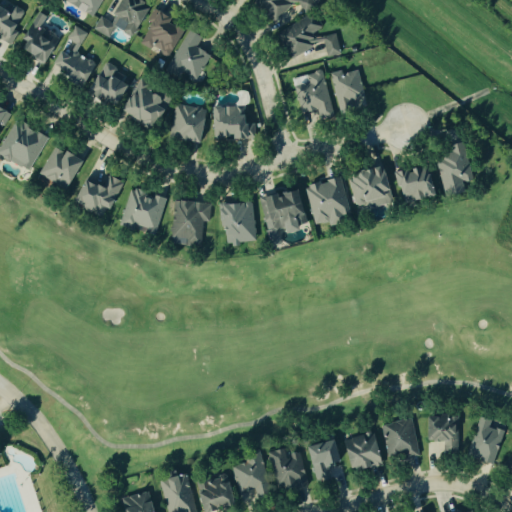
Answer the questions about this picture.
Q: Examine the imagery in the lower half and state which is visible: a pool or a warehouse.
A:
pool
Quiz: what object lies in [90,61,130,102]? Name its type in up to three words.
house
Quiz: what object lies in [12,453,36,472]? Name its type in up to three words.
swimming pool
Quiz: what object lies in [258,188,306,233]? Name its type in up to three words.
house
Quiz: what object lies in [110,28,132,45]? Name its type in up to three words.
swimming pool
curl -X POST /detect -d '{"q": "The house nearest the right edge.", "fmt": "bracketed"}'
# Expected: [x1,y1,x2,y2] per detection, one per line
[474,416,507,466]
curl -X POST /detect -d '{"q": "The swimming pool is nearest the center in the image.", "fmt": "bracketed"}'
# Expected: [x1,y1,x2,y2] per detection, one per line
[276,220,312,248]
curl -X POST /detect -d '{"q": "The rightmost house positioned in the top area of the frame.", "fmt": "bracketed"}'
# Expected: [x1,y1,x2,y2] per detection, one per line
[438,142,474,196]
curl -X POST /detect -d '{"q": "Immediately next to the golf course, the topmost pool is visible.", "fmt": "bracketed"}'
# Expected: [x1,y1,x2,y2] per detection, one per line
[0,160,34,180]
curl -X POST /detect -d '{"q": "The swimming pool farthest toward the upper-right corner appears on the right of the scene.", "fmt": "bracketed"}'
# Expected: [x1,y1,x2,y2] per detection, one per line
[370,204,390,222]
